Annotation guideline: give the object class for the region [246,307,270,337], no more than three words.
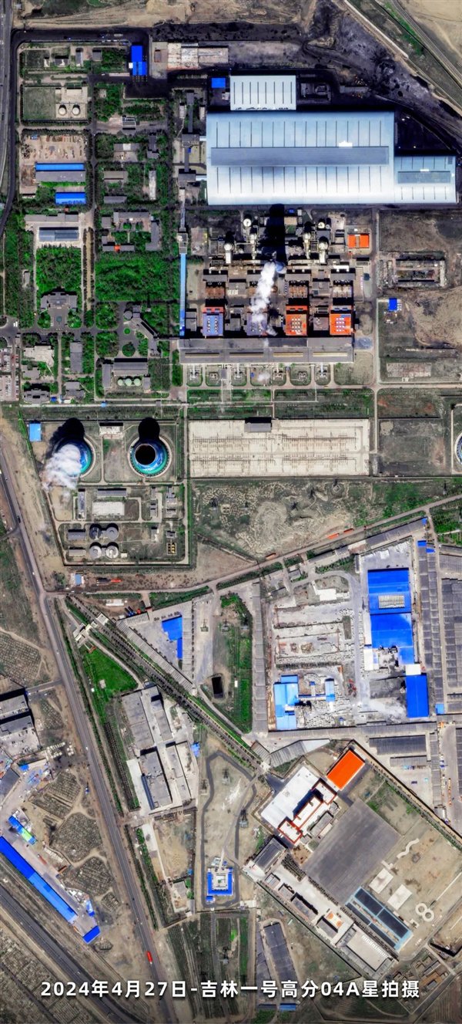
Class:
building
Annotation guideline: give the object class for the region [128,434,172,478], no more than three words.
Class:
cooling tower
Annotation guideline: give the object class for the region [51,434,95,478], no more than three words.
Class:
cooling tower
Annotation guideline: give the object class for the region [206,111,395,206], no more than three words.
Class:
shed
